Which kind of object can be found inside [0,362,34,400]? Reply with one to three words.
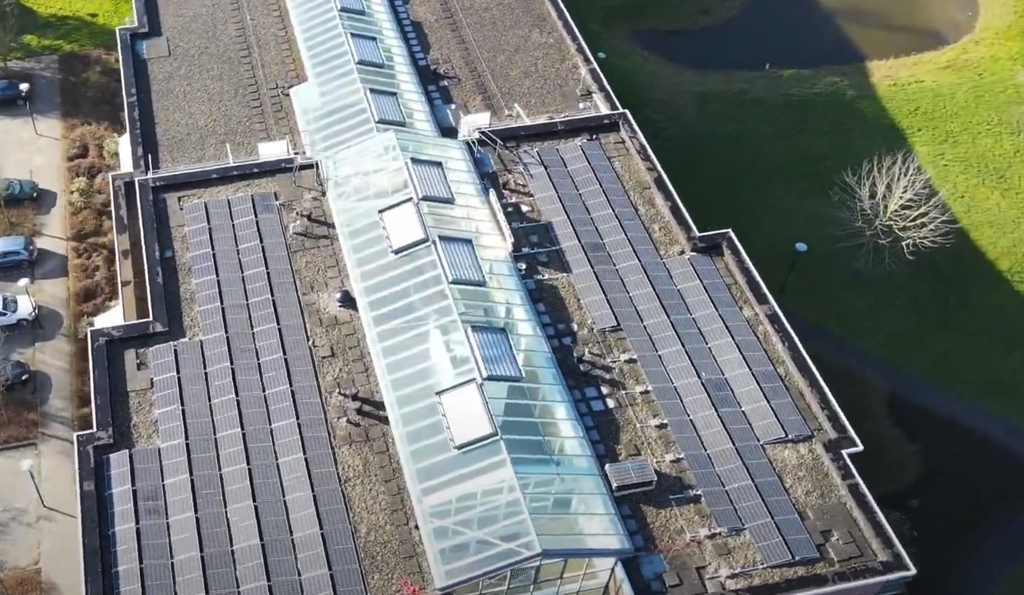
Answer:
car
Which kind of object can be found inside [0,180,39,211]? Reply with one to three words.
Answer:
car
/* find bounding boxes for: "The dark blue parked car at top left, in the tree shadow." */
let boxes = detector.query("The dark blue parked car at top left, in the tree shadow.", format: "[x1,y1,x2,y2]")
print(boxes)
[0,81,30,109]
